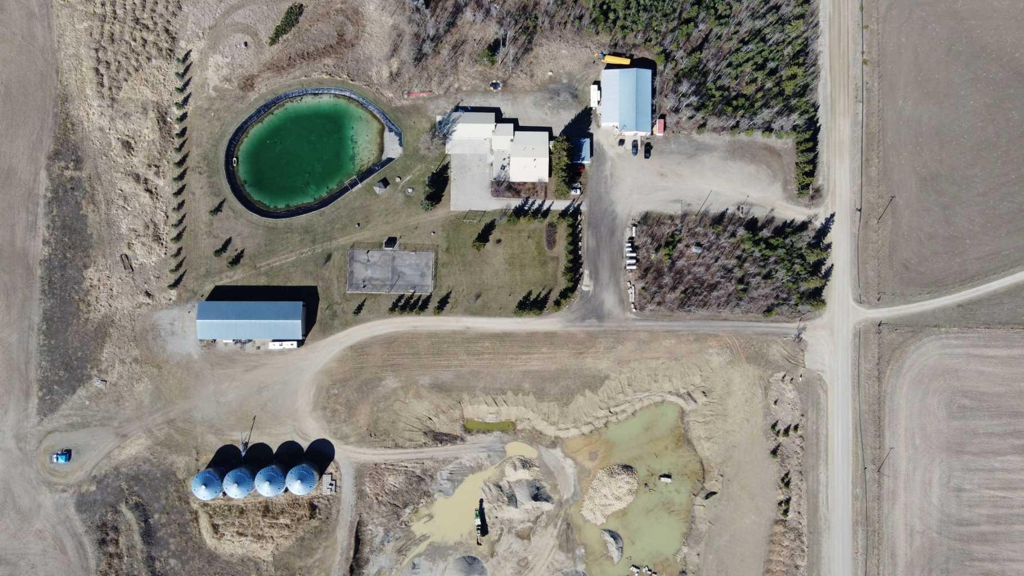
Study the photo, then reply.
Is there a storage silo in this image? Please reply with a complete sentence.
Yes, you can see a storage silo in this photo.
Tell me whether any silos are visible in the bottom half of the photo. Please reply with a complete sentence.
Yes, in the bottom half of the photo there is a silo.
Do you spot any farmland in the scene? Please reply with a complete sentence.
Yes, there's farmland in this view.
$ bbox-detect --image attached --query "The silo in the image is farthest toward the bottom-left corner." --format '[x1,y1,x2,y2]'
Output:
[191,464,228,500]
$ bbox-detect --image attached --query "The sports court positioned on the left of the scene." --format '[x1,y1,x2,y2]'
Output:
[348,250,432,293]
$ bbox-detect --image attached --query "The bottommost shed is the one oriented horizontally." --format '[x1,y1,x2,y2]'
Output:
[194,301,306,339]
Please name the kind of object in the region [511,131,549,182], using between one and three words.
house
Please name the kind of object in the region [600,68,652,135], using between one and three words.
building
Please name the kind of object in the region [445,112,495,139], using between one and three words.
building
